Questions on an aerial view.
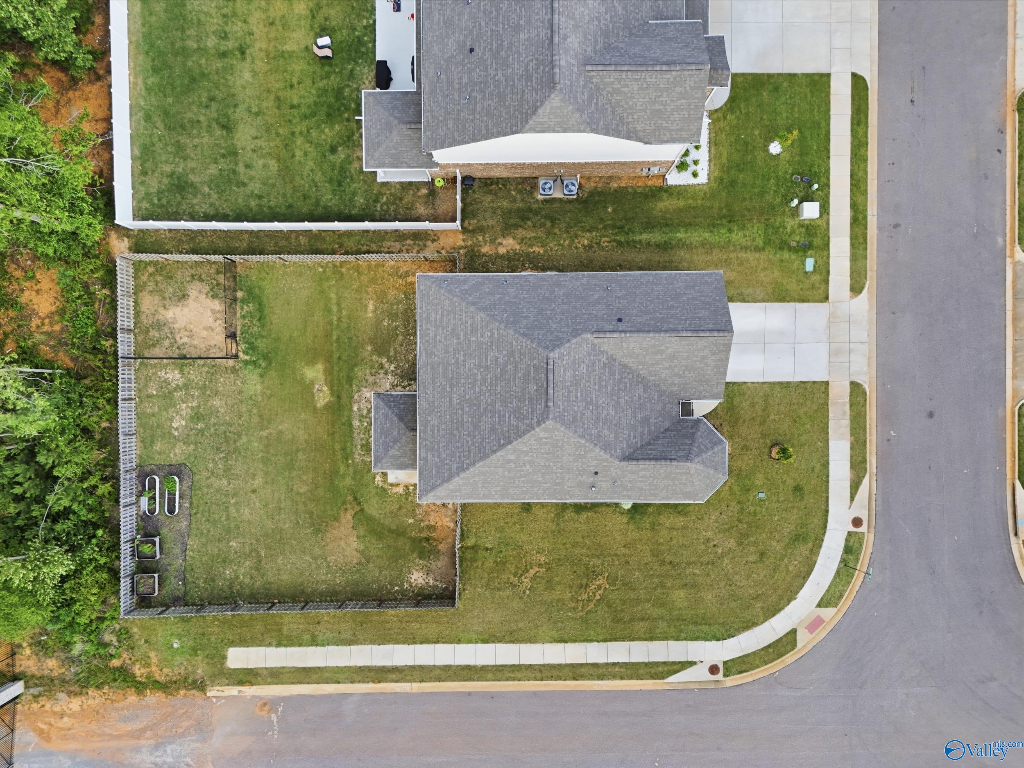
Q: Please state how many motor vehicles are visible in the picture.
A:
zero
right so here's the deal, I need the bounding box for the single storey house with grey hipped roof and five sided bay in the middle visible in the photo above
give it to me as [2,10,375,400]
[372,271,733,503]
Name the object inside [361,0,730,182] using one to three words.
house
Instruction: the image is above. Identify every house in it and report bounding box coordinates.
[361,0,730,182]
[372,271,733,503]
